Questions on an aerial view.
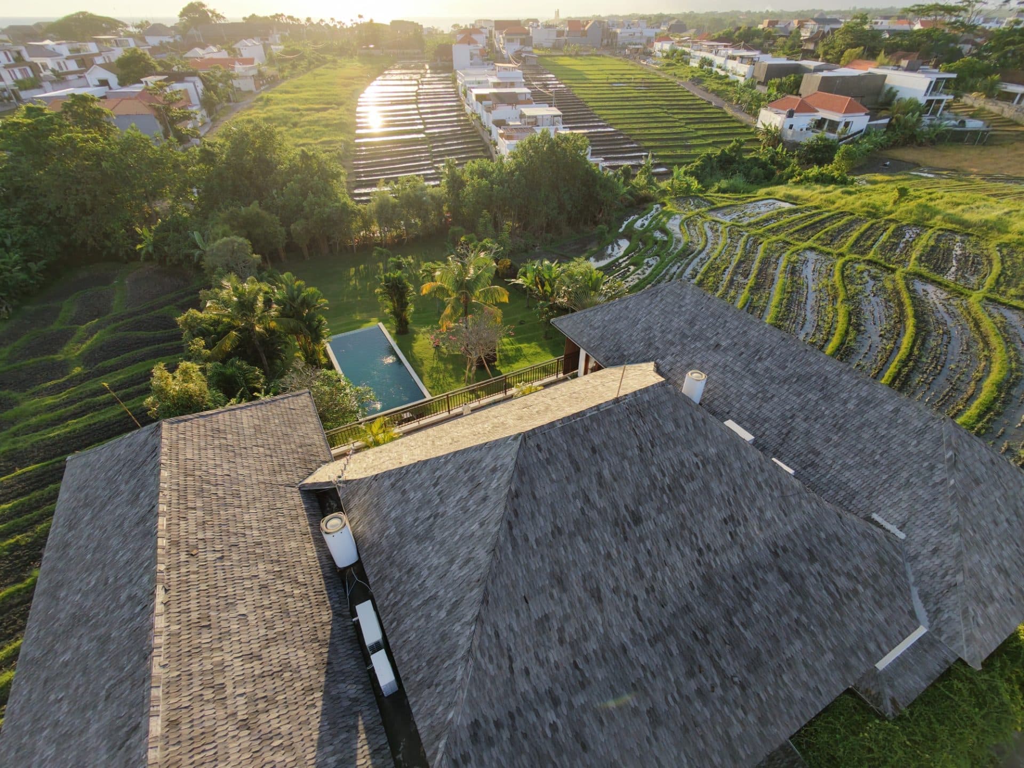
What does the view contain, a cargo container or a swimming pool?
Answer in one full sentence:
This aerial view contains a swimming pool.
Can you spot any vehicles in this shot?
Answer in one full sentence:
No, no vehicle is visible in the scene.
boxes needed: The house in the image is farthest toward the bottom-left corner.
[0,392,387,768]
